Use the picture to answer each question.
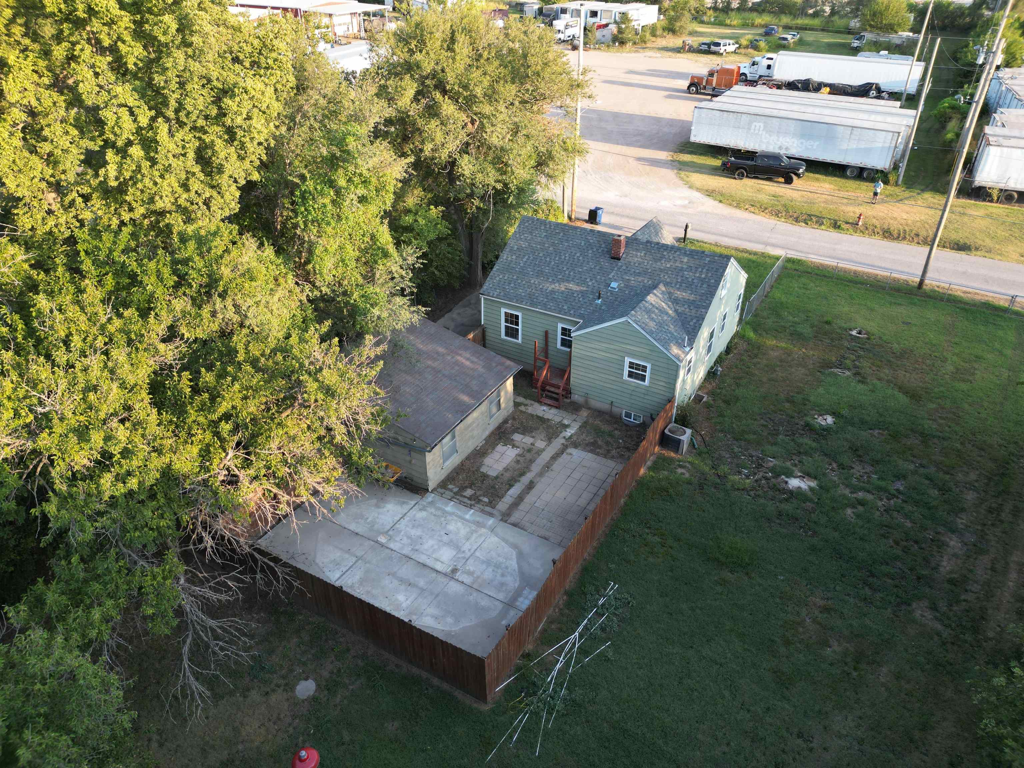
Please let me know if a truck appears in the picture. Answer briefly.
Yes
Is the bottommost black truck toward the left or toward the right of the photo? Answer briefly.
right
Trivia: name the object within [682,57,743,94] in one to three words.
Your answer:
truck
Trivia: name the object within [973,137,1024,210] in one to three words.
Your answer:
trailer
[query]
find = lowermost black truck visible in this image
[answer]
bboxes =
[721,150,810,185]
